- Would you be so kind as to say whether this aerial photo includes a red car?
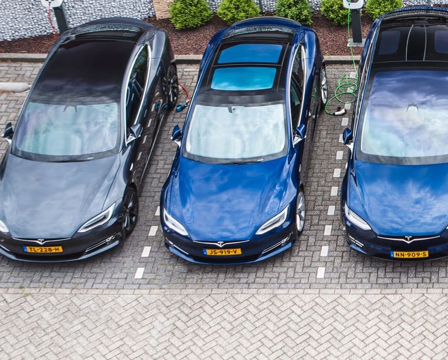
No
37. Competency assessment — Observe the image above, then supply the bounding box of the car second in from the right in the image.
[163,16,328,267]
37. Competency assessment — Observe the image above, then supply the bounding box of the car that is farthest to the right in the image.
[339,3,448,264]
